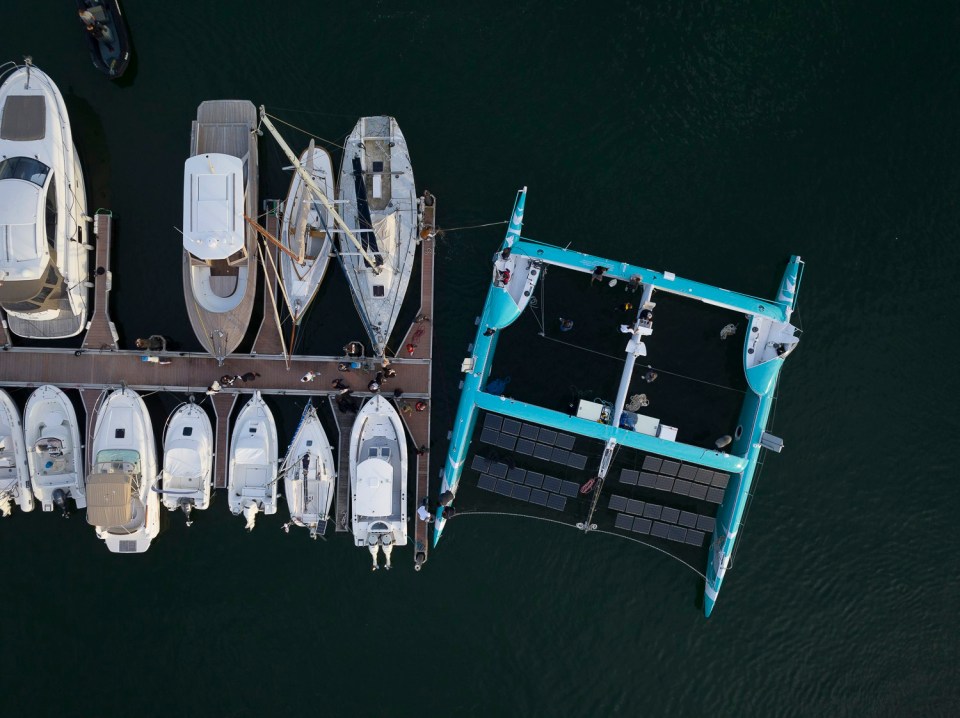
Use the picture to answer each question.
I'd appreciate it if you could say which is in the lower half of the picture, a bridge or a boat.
boat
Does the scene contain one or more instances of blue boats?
Yes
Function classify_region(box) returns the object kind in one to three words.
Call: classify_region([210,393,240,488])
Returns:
pier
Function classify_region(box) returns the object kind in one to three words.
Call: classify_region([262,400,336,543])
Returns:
boat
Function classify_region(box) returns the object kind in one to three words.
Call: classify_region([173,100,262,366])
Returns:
boat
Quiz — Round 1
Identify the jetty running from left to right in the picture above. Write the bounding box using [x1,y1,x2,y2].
[0,346,432,398]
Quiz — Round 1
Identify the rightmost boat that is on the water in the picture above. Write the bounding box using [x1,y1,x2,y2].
[434,186,804,617]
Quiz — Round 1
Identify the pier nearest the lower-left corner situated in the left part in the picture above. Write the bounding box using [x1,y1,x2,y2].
[79,389,110,478]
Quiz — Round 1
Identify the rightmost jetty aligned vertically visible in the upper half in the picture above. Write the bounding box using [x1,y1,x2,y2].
[396,197,436,358]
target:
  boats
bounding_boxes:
[173,100,262,366]
[0,385,36,537]
[230,388,279,531]
[149,396,217,528]
[24,385,87,523]
[84,381,163,553]
[76,0,129,80]
[243,139,337,370]
[262,400,336,543]
[351,393,409,573]
[434,186,804,617]
[0,54,92,338]
[255,98,419,355]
